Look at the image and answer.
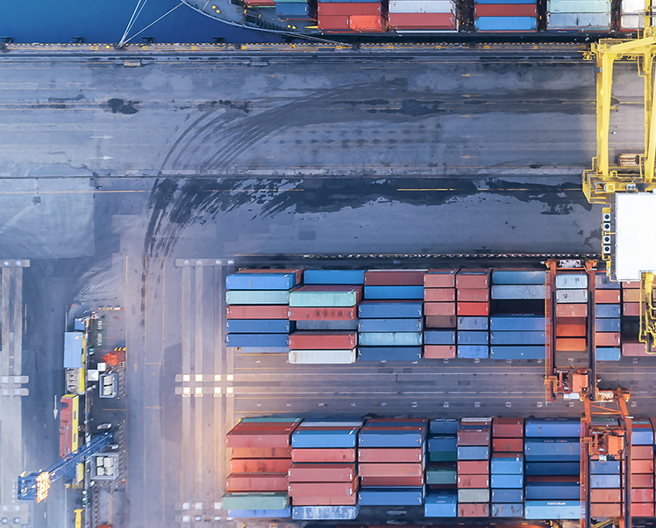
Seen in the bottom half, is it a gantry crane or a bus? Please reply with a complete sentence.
Looking in the bottom half, you will find a gantry crane.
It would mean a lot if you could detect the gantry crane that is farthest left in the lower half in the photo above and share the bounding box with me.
[543,260,600,406]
